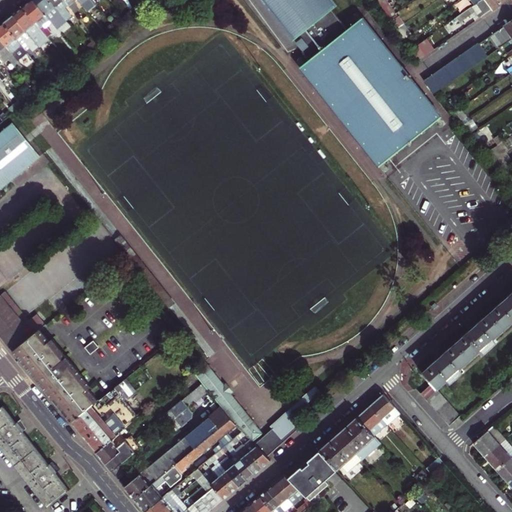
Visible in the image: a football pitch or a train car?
football pitch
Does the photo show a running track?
Yes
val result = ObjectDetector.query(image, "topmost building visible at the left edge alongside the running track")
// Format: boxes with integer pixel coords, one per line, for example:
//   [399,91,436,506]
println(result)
[0,121,40,190]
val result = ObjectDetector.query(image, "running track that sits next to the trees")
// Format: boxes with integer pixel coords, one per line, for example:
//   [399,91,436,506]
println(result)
[59,28,397,384]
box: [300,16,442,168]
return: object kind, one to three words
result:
building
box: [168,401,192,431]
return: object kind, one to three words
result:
house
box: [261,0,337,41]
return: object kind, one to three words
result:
building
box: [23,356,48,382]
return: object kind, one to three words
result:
house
